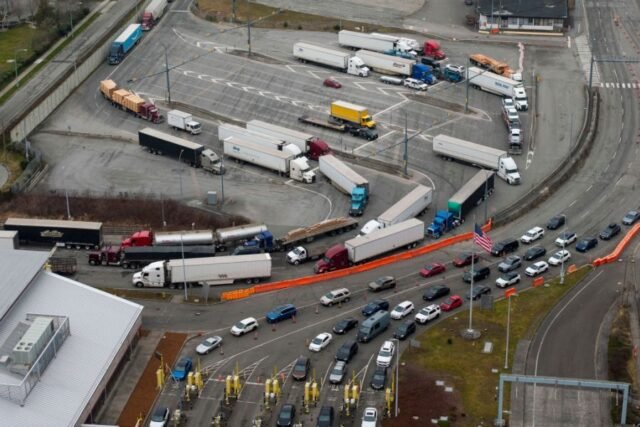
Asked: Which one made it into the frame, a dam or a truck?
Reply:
truck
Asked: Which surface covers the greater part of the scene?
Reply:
paved ground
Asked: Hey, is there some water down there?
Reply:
No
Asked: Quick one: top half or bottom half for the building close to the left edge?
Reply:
bottom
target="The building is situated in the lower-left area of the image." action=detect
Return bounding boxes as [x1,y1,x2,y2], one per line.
[0,249,148,427]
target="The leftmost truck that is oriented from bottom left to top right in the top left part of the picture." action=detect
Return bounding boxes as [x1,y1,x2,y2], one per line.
[109,25,140,63]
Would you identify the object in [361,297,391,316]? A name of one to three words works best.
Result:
vehicle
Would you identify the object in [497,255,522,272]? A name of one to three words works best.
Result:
car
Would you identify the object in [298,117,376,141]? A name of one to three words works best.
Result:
truck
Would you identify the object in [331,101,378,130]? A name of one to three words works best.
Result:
truck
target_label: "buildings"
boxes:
[0,249,148,427]
[472,0,562,31]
